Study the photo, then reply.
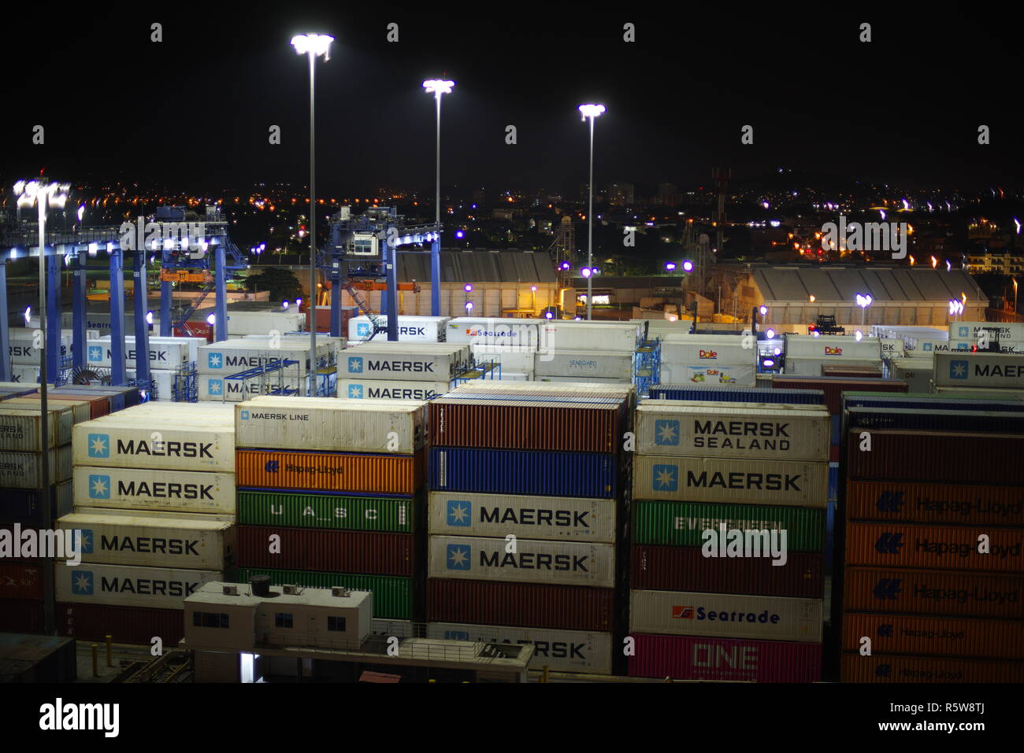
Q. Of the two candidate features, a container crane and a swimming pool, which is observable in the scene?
container crane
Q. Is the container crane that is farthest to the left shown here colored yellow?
No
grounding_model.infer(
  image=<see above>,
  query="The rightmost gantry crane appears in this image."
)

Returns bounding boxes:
[310,187,443,389]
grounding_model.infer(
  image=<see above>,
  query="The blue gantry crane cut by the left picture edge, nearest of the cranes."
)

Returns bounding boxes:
[0,223,130,387]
